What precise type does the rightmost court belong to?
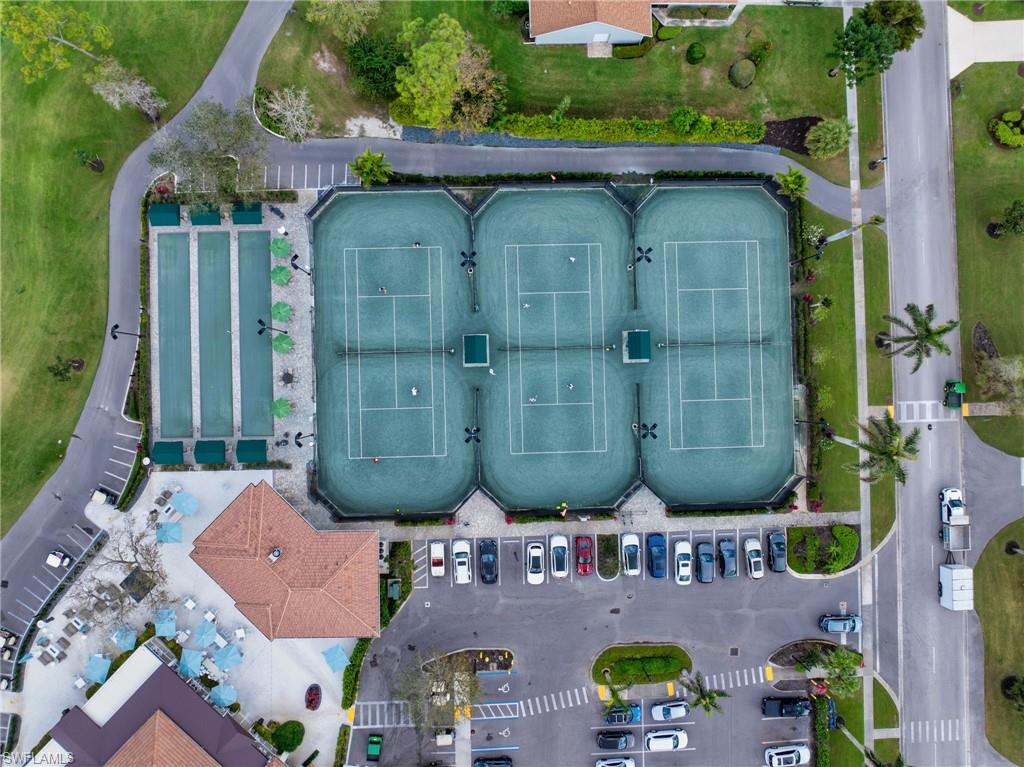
tennis court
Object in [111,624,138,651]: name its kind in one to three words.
umbrella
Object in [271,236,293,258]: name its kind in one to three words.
umbrella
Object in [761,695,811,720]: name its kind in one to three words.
truck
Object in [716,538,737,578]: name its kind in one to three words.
car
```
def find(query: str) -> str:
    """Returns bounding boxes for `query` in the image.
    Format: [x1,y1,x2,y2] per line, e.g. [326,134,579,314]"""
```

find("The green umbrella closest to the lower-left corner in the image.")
[271,397,293,419]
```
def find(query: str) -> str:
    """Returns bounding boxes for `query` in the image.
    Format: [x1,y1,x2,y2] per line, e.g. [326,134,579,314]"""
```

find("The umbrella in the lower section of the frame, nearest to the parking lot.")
[320,641,352,673]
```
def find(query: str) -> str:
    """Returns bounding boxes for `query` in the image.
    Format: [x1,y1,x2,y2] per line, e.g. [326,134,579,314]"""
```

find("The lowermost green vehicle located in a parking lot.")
[367,733,384,762]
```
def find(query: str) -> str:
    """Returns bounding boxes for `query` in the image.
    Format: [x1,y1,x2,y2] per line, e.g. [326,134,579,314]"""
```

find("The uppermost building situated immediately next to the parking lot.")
[188,479,381,642]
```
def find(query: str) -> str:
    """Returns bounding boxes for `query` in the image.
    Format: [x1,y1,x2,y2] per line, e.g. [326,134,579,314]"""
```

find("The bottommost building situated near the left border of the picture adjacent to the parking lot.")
[23,643,285,767]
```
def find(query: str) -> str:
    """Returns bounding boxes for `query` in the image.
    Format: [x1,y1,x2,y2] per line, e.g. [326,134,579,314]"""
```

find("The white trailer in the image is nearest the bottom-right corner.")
[938,552,974,613]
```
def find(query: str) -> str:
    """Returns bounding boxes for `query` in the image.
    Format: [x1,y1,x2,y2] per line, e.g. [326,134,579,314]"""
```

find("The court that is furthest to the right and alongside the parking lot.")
[633,185,796,508]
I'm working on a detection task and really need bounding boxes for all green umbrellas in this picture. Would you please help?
[271,236,293,258]
[271,265,293,286]
[271,397,293,419]
[271,333,293,354]
[271,300,293,322]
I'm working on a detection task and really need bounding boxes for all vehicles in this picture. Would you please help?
[937,488,970,552]
[765,531,787,572]
[694,542,716,583]
[621,532,642,576]
[602,701,642,724]
[548,534,569,577]
[761,695,811,720]
[716,538,737,578]
[367,733,384,762]
[478,538,498,582]
[741,537,763,579]
[649,696,689,721]
[595,752,636,767]
[430,541,445,578]
[646,532,668,578]
[0,647,13,662]
[817,612,861,634]
[0,633,20,651]
[941,382,964,408]
[0,676,11,691]
[596,727,634,750]
[643,726,687,751]
[433,729,457,748]
[474,752,514,767]
[450,538,471,582]
[575,536,595,575]
[673,540,693,584]
[524,542,545,584]
[42,551,72,568]
[765,742,809,766]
